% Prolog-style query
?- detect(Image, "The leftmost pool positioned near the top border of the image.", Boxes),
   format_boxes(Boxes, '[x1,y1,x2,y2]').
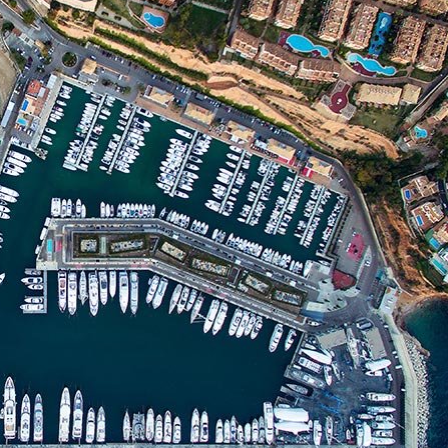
[141,5,170,33]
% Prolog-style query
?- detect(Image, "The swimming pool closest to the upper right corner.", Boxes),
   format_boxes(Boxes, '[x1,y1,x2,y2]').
[368,12,392,55]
